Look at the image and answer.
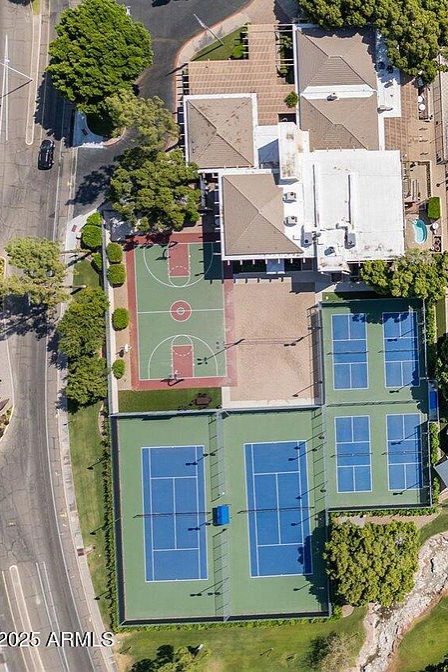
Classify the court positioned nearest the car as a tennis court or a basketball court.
basketball court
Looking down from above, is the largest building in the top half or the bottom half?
top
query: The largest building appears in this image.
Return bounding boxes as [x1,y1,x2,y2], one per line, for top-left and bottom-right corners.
[179,23,406,276]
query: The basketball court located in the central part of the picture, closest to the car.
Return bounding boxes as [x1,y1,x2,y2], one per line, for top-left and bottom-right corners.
[126,234,236,390]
